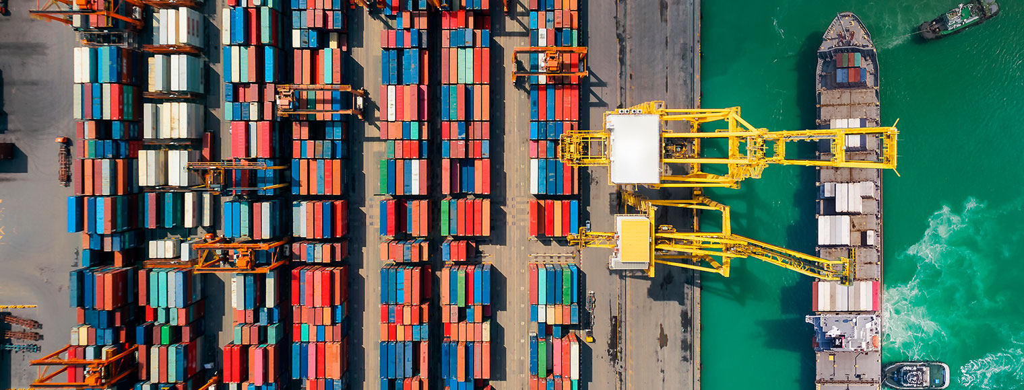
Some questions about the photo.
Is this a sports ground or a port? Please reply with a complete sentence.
What you see here is a port.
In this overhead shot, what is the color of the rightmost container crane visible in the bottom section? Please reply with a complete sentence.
From above, the rightmost container crane visible in the bottom section appears yellow.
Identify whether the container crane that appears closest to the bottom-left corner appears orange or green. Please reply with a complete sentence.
The container crane that appears closest to the bottom-left corner is orange.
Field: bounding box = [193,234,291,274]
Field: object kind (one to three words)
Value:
container crane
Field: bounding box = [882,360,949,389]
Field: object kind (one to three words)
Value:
boat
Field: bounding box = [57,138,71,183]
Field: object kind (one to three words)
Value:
vehicle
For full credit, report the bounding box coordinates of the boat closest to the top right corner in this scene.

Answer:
[894,0,1000,38]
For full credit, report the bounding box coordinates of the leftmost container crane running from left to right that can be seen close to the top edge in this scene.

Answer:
[28,0,140,27]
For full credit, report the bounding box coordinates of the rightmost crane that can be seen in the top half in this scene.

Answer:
[558,97,900,191]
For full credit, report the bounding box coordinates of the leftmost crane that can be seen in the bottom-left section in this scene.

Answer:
[28,341,115,390]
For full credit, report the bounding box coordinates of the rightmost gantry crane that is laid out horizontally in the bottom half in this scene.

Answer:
[567,186,850,293]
